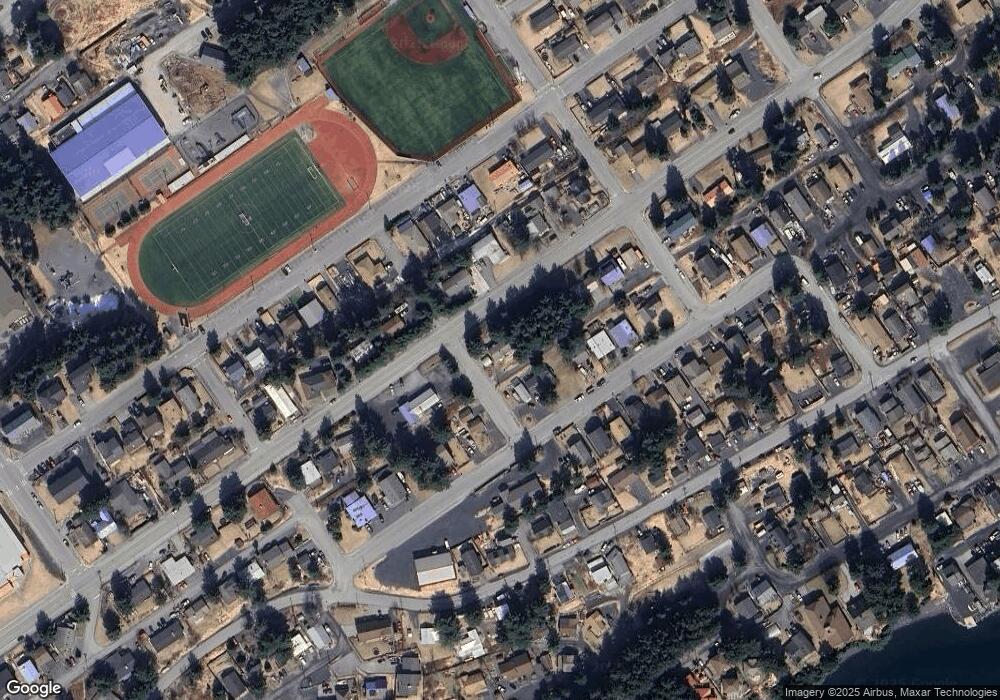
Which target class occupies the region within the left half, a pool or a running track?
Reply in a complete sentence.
It is a running track that can be seen within the left half.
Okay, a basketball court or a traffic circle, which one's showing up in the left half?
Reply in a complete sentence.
There is a basketball court in the left half.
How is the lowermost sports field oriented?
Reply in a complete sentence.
In this picture, the lowermost sports field is oriented at an angle.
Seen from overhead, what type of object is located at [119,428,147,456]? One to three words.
house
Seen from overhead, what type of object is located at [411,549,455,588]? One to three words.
shed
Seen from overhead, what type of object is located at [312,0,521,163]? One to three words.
baseball field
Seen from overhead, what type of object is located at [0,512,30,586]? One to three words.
building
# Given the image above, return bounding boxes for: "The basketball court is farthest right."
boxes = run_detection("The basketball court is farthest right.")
[130,149,187,201]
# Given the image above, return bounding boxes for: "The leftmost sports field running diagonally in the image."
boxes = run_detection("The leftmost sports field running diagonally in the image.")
[139,129,347,307]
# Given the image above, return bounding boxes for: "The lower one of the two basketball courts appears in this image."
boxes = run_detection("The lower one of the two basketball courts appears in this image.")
[82,180,141,236]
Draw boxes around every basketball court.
[82,180,141,236]
[130,149,187,201]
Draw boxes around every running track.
[118,99,376,319]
